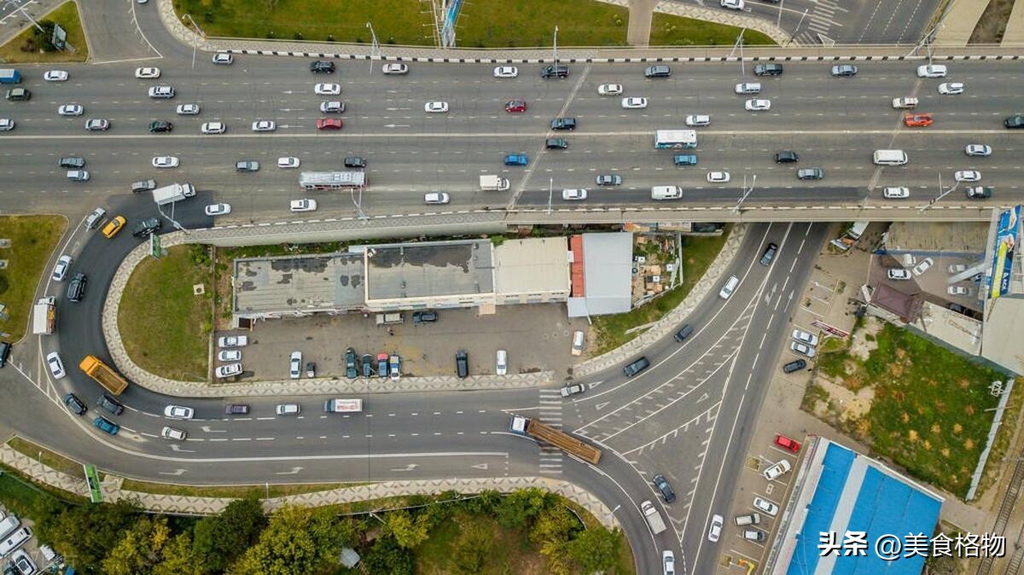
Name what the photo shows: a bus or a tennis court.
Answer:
bus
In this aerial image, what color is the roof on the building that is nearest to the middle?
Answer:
white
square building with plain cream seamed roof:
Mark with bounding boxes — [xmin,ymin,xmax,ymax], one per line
[496,236,570,306]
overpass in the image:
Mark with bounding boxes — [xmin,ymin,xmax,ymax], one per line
[0,35,1024,245]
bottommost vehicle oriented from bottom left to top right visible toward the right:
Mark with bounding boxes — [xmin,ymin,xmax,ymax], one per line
[762,459,791,481]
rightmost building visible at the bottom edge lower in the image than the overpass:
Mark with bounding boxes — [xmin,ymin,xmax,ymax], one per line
[756,436,945,575]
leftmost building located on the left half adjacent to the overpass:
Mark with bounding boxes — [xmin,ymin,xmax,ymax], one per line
[234,253,374,332]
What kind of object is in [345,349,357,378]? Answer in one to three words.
vehicle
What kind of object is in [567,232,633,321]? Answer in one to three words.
building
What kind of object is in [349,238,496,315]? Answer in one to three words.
building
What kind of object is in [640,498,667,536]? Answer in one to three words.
truck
